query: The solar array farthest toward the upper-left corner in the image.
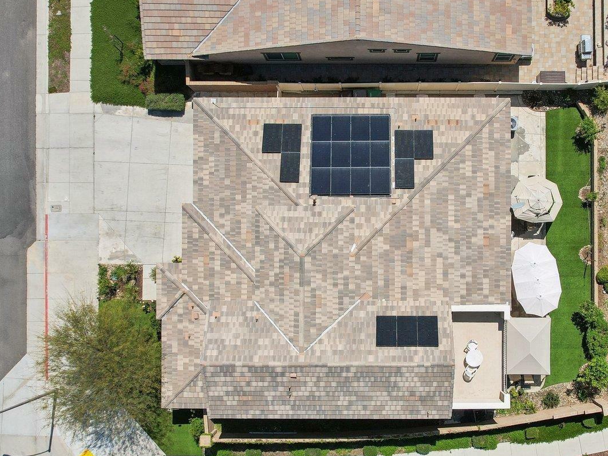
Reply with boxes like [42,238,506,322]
[261,123,301,181]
